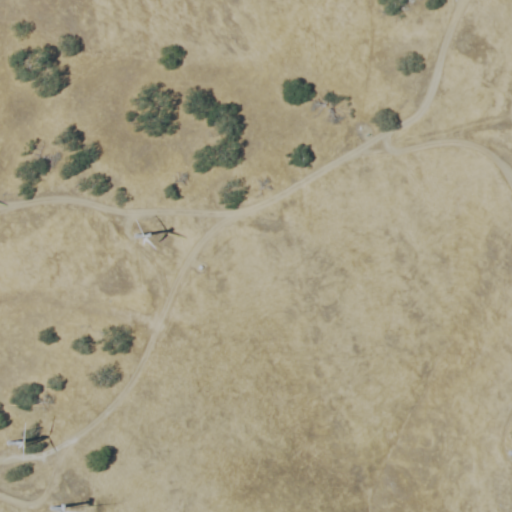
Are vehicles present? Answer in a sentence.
No, there appears to be no vehicle in this shot.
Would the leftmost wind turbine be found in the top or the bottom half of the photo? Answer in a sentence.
It is in the bottom half that the leftmost wind turbine appears.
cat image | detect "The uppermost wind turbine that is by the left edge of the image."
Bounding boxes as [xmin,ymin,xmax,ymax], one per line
[5,425,28,460]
